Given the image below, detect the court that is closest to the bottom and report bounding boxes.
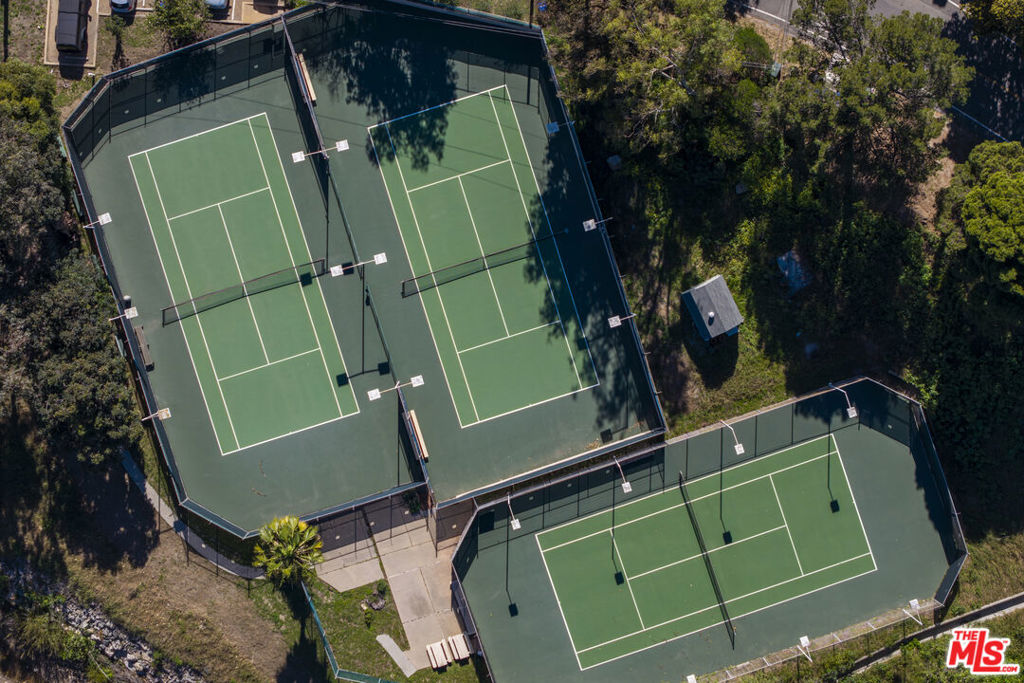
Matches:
[453,376,957,683]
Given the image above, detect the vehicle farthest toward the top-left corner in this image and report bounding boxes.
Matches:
[60,0,89,54]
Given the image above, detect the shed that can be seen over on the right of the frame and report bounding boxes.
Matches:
[684,273,743,339]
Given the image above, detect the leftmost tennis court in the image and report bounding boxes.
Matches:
[75,25,424,531]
